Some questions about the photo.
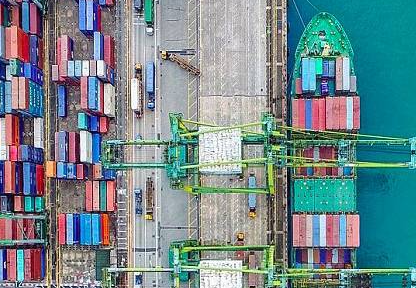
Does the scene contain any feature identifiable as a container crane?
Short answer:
Yes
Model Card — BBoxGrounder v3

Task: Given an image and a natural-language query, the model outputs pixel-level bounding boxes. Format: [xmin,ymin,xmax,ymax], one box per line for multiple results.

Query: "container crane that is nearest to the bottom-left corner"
[0,214,51,247]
